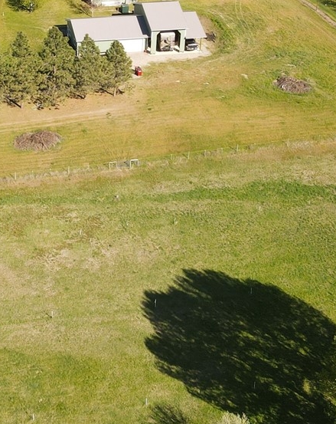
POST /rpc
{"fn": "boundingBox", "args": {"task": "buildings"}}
[90,0,129,6]
[69,0,207,56]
